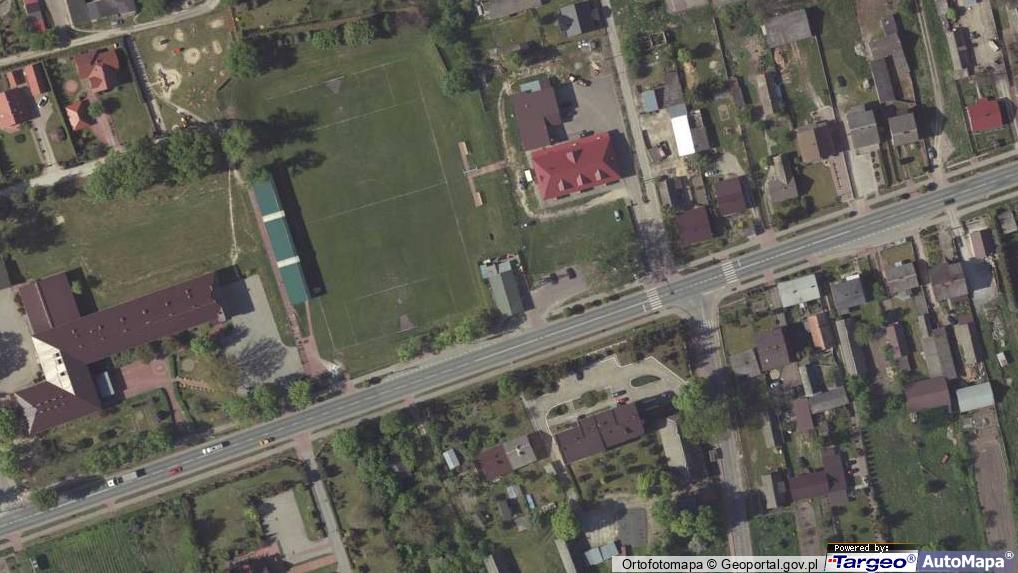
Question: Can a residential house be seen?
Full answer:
Yes, there's a residential house here.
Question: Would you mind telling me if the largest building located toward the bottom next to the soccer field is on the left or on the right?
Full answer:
The largest building located toward the bottom next to the soccer field is on the left side of the image.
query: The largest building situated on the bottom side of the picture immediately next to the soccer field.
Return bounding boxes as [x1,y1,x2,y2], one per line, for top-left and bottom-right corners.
[15,271,224,433]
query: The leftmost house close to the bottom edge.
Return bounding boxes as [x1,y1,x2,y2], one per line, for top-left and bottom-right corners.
[222,542,279,573]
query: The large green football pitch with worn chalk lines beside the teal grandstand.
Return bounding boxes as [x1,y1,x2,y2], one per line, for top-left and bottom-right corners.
[265,58,481,350]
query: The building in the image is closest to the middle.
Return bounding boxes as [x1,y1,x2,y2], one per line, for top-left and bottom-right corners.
[477,261,523,314]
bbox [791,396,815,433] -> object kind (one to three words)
shed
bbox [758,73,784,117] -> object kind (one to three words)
barn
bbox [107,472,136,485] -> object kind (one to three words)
vehicle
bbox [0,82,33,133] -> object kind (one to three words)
house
